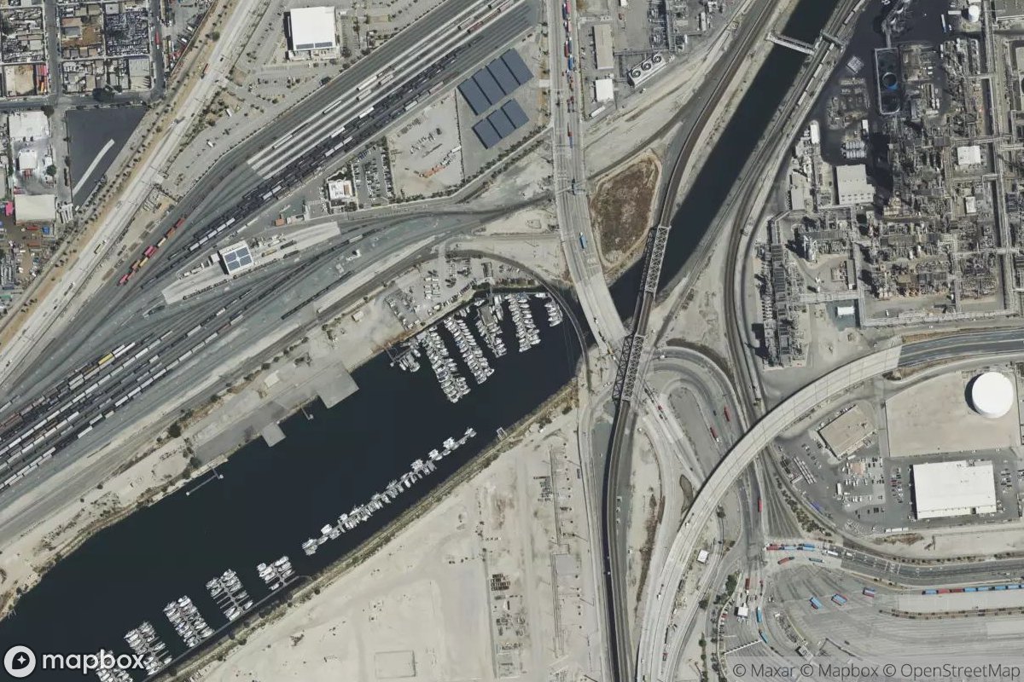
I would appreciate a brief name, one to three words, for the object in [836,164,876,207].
building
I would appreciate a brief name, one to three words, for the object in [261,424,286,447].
pier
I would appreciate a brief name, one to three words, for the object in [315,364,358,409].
pier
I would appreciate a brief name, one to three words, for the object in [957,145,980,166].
building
